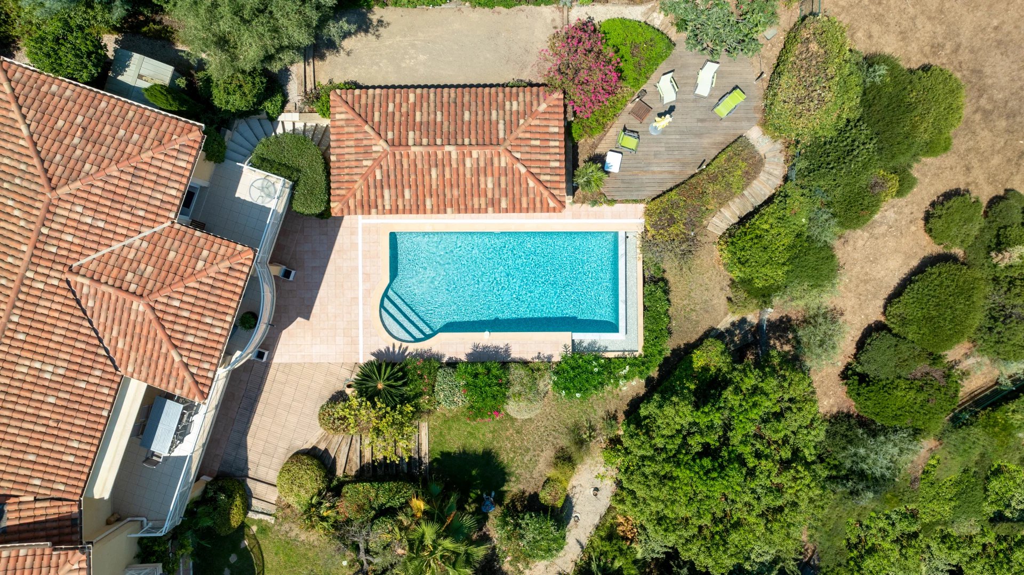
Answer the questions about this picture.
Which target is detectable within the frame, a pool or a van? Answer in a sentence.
There is a pool in the scene.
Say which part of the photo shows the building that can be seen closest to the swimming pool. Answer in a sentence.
The building that can be seen closest to the swimming pool appears toward the top of the photo.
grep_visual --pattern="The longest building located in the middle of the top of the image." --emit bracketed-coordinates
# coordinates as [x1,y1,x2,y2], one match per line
[328,85,568,217]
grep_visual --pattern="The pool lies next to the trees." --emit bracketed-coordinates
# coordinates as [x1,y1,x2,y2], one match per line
[370,223,644,354]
